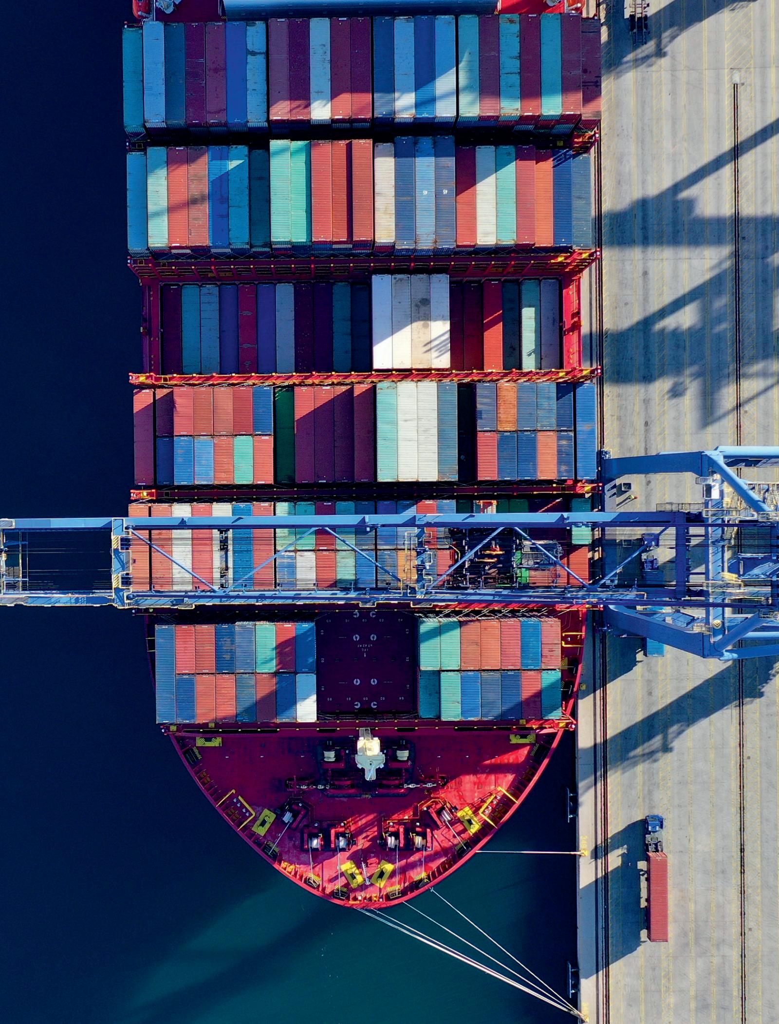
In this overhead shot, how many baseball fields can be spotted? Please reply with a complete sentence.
The count of baseball fields is 0.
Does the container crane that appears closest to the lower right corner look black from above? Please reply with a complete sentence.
No, the color of the container crane that appears closest to the lower right corner is blue.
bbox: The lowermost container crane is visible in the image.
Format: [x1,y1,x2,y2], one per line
[0,438,779,663]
